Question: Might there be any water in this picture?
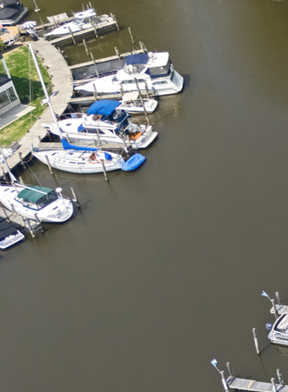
Yes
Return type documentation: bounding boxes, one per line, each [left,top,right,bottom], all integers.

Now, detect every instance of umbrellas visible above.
[18,20,40,34]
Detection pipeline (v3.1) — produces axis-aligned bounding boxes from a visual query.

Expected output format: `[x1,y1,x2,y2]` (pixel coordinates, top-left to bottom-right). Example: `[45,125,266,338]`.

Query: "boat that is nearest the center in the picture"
[121,157,146,173]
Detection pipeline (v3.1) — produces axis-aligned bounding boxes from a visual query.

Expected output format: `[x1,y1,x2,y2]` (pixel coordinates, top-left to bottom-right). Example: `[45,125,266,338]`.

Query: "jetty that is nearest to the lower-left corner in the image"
[0,198,44,235]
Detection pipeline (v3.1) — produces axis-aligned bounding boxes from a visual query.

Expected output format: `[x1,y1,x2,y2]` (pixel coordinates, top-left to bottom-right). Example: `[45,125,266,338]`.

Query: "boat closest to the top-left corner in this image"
[0,0,33,26]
